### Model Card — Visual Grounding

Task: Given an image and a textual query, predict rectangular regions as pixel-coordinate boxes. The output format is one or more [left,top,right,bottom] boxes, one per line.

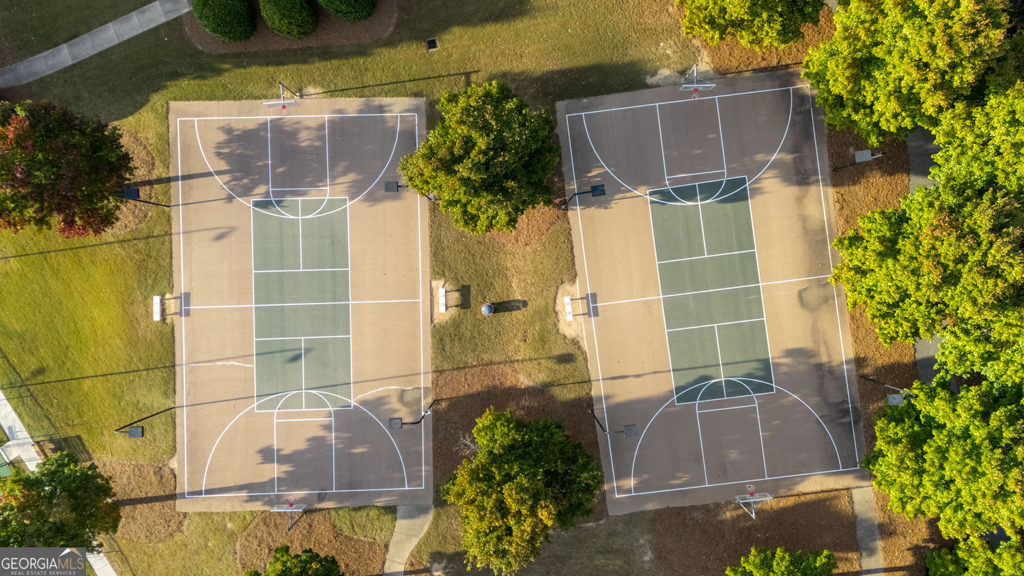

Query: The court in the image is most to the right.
[556,65,872,515]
